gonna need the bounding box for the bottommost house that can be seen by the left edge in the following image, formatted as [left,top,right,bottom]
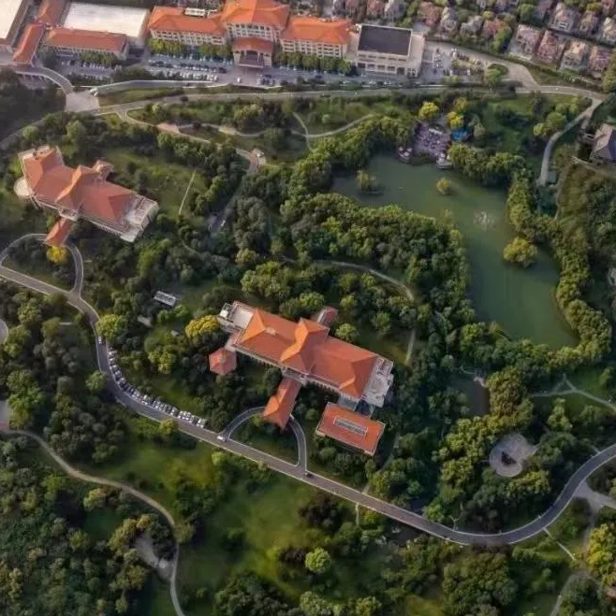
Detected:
[8,147,165,250]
